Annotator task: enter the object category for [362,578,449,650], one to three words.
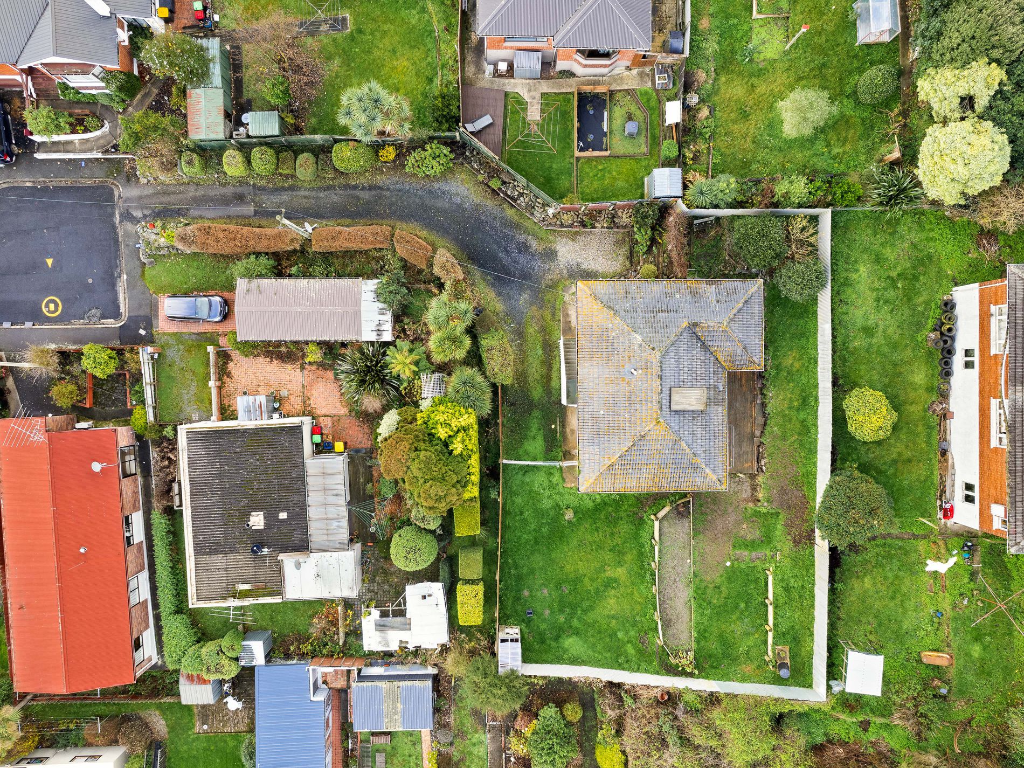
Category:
shed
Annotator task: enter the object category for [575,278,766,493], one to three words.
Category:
house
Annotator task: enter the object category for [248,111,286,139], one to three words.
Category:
shed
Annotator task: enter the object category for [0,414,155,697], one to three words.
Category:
house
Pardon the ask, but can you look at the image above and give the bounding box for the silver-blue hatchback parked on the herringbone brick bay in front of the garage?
[164,292,231,324]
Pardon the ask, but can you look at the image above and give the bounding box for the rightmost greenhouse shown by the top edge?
[845,0,900,55]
